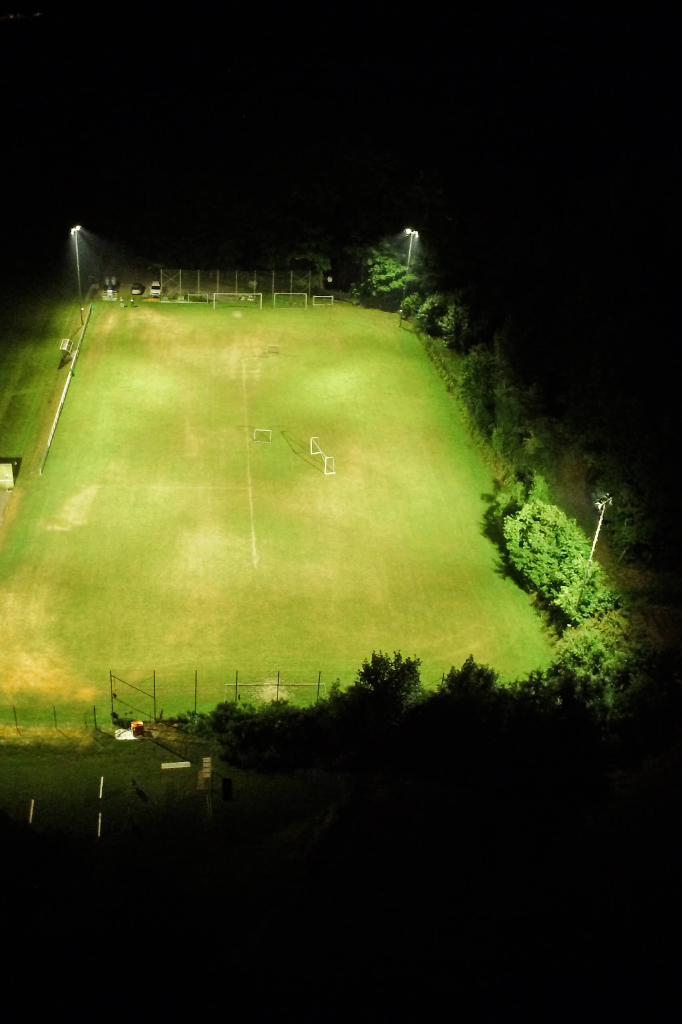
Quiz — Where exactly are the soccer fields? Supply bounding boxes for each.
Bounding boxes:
[0,298,555,747]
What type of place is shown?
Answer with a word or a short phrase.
sports ground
